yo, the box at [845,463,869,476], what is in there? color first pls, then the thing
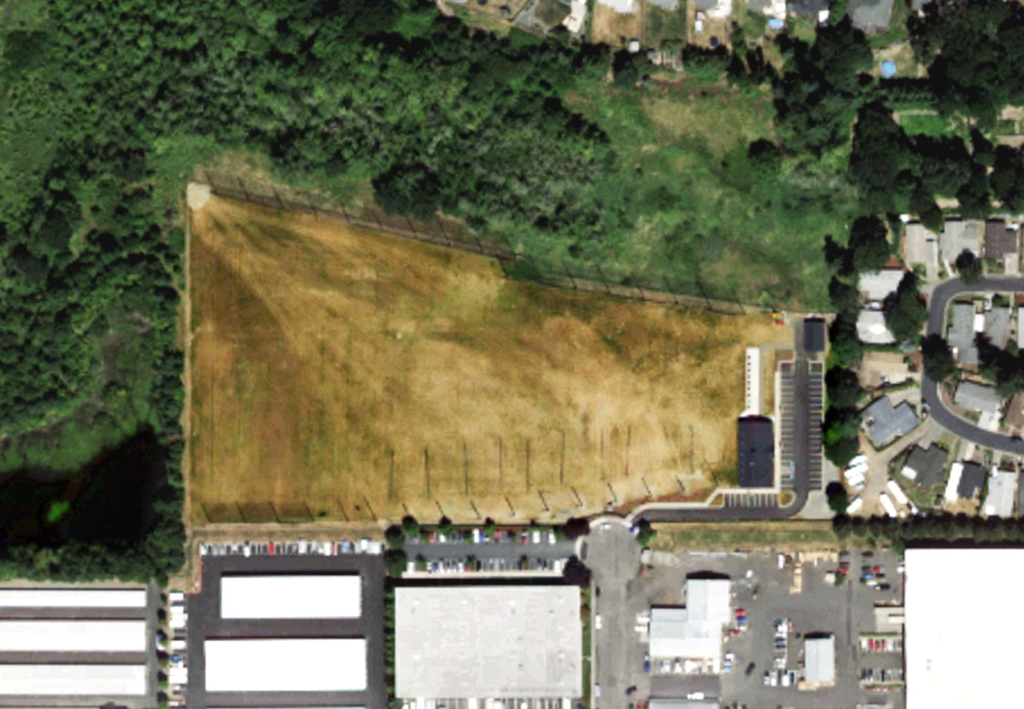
white vehicle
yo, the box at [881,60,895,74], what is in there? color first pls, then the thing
blue swimming pool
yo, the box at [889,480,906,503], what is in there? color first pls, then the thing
white camper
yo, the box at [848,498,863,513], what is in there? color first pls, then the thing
white camper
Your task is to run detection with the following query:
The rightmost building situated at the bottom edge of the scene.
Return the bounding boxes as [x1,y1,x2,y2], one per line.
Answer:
[905,549,1024,709]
